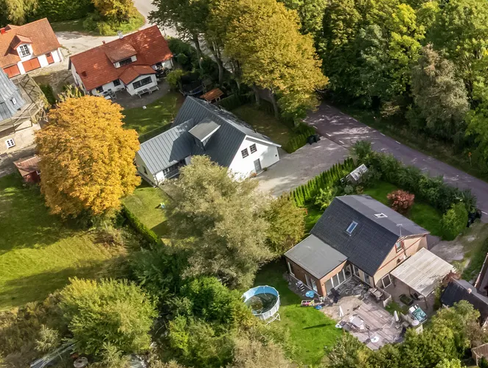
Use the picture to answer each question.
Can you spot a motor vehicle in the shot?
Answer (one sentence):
No, the picture doesn't show any motor vehicle.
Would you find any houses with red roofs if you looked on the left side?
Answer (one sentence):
Yes, I can see a house with a red roof on the left side.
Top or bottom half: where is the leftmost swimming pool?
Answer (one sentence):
The leftmost swimming pool sits in the bottom half of the picture.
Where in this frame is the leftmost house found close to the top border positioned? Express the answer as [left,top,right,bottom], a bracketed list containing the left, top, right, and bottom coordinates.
[0,18,64,76]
